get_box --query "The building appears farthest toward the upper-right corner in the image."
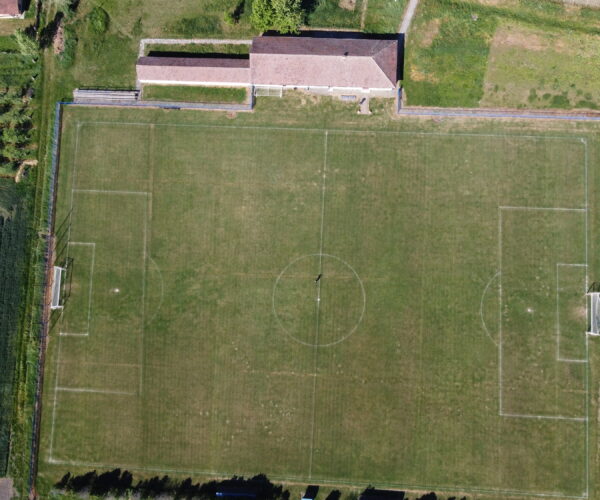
[248,36,397,98]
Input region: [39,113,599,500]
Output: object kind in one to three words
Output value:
soccer field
